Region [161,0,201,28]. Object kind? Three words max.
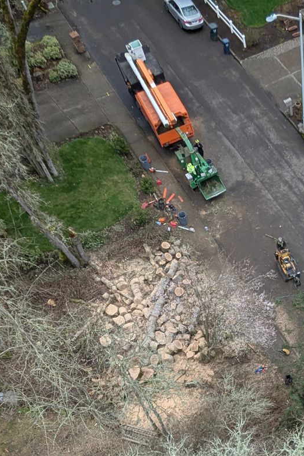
car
